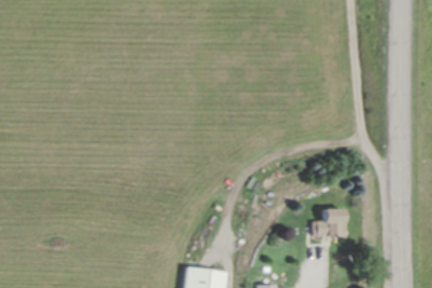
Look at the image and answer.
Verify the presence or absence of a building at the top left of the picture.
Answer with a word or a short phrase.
No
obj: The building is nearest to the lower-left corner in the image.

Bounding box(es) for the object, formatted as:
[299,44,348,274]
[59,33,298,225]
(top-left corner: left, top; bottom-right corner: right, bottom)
[185,268,230,288]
